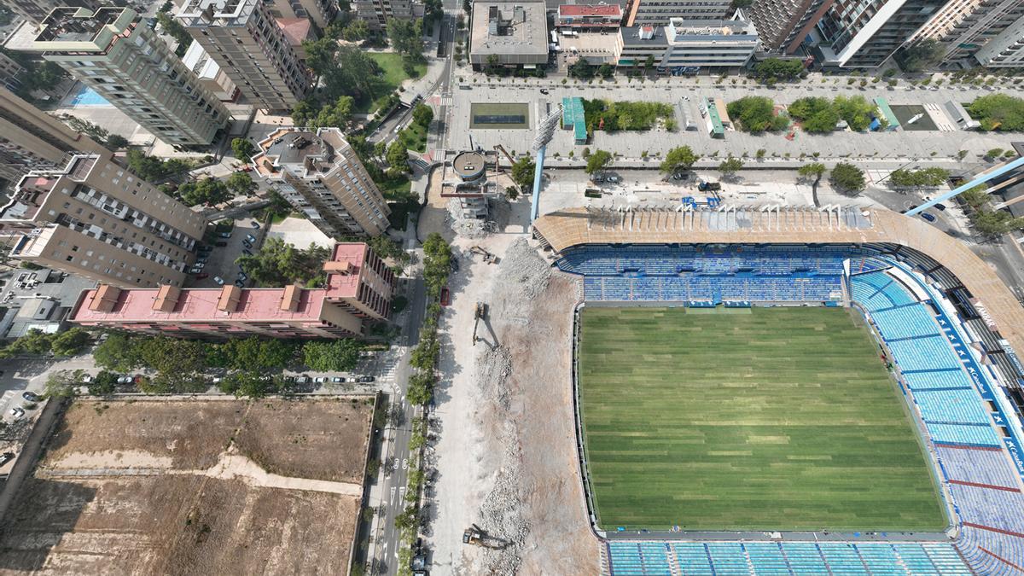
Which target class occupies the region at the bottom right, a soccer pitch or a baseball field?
soccer pitch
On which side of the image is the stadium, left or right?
right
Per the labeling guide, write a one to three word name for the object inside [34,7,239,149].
building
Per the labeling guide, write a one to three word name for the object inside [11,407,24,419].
vehicle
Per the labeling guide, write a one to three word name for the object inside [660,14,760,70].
building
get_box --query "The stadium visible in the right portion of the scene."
[534,203,1024,576]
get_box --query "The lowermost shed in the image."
[0,395,57,510]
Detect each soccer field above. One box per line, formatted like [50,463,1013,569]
[575,302,955,540]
